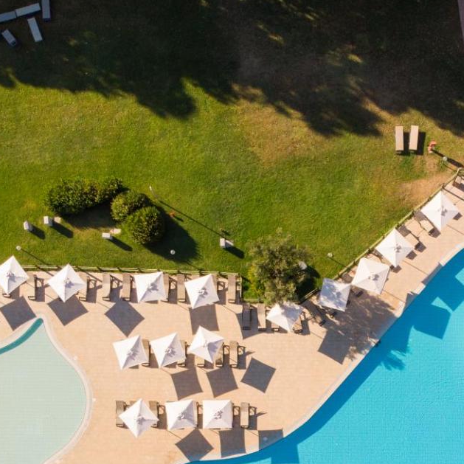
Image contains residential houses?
No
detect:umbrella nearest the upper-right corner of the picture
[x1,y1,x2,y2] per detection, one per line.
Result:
[421,190,461,229]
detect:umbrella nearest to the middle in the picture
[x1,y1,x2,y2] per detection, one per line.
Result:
[186,273,221,308]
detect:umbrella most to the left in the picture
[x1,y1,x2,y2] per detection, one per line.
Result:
[0,254,30,294]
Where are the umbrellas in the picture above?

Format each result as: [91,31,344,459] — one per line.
[164,399,195,430]
[188,327,224,363]
[0,254,30,294]
[352,257,388,294]
[320,278,352,311]
[421,190,461,229]
[267,300,304,333]
[203,399,231,428]
[119,398,159,437]
[112,334,148,371]
[377,228,415,268]
[135,272,166,302]
[151,332,185,366]
[47,265,86,303]
[186,273,221,308]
